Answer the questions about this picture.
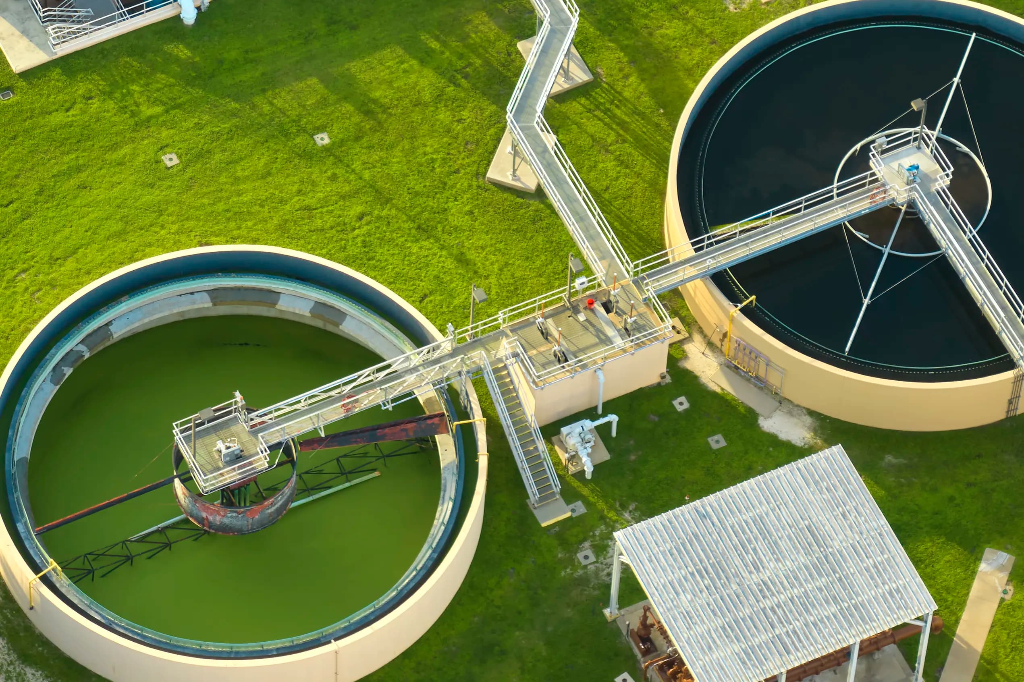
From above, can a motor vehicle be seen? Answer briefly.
No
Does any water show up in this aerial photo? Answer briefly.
Yes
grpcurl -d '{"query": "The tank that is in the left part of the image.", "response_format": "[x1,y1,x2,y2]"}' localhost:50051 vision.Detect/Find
[0,243,487,682]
